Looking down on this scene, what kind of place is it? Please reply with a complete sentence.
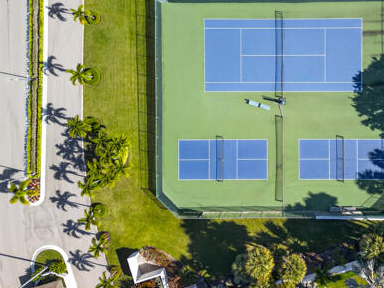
This image shows a sports ground.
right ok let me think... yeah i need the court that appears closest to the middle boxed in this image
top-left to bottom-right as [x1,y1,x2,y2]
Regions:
[178,139,268,180]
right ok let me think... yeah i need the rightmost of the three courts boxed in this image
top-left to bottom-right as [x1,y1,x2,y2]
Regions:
[299,139,384,180]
